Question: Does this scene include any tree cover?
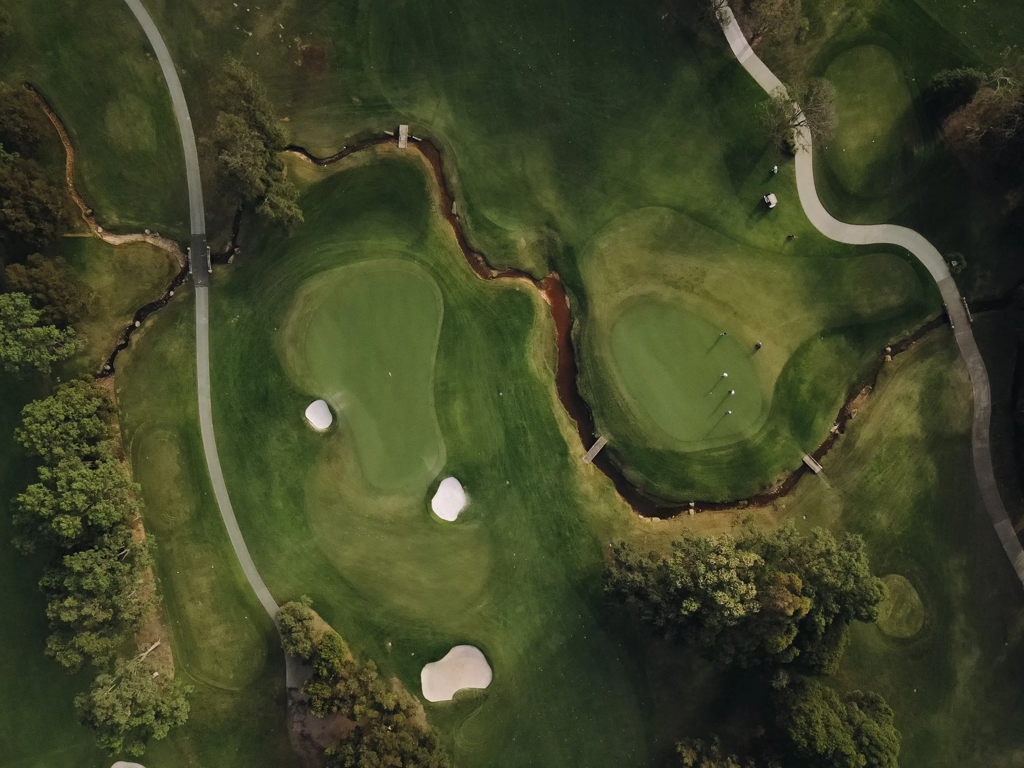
Yes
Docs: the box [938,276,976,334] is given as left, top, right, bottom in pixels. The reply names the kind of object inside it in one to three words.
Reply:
bridge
